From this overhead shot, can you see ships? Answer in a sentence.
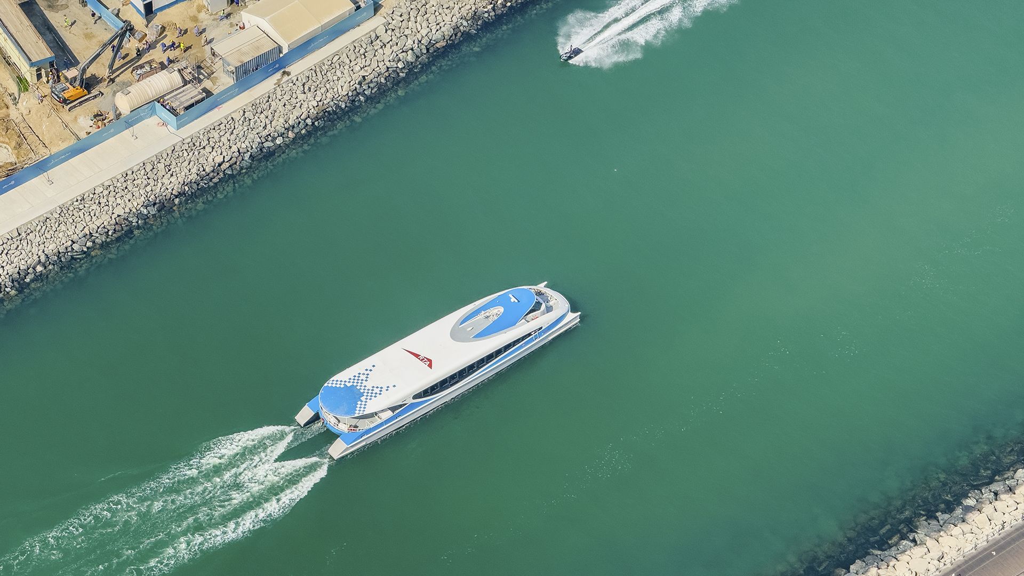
Yes, the photo shows a ship.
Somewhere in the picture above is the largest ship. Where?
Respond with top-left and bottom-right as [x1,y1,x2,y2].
[295,280,582,467]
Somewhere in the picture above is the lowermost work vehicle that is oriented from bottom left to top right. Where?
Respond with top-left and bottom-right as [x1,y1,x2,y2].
[51,16,131,111]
